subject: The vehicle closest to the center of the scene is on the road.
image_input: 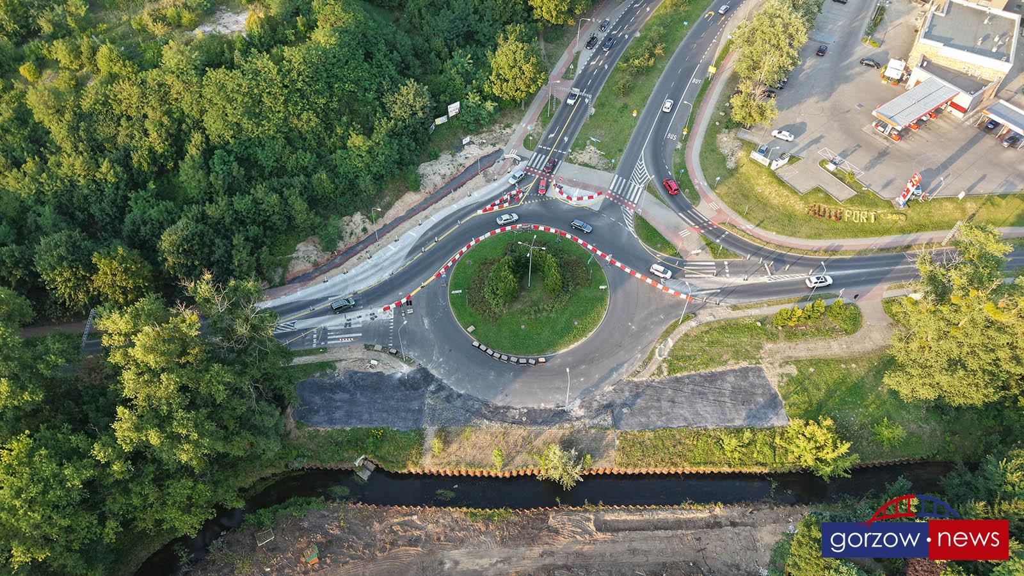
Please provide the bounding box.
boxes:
[496,213,519,226]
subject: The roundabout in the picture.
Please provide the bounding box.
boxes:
[409,224,682,406]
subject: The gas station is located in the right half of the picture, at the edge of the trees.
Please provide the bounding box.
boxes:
[737,0,1024,204]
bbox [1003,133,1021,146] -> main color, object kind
gray vehicle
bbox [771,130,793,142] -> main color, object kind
white vehicle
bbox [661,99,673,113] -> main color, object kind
white vehicle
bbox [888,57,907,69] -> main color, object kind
white umbrella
